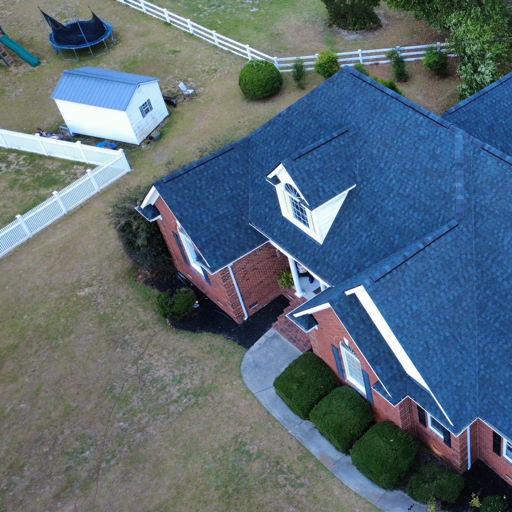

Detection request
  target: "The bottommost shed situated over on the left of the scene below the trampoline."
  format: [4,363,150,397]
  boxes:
[54,70,169,145]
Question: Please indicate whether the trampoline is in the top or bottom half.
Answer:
top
